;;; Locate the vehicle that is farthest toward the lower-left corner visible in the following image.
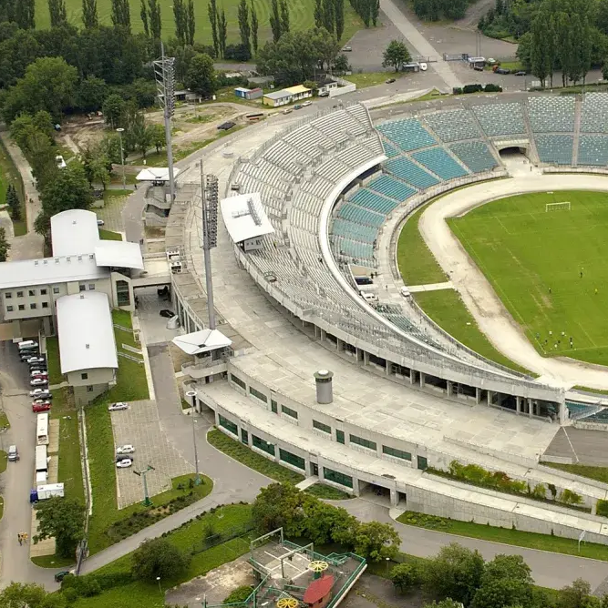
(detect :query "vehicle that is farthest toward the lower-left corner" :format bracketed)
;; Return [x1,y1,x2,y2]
[50,567,73,581]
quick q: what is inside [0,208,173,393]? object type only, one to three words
building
